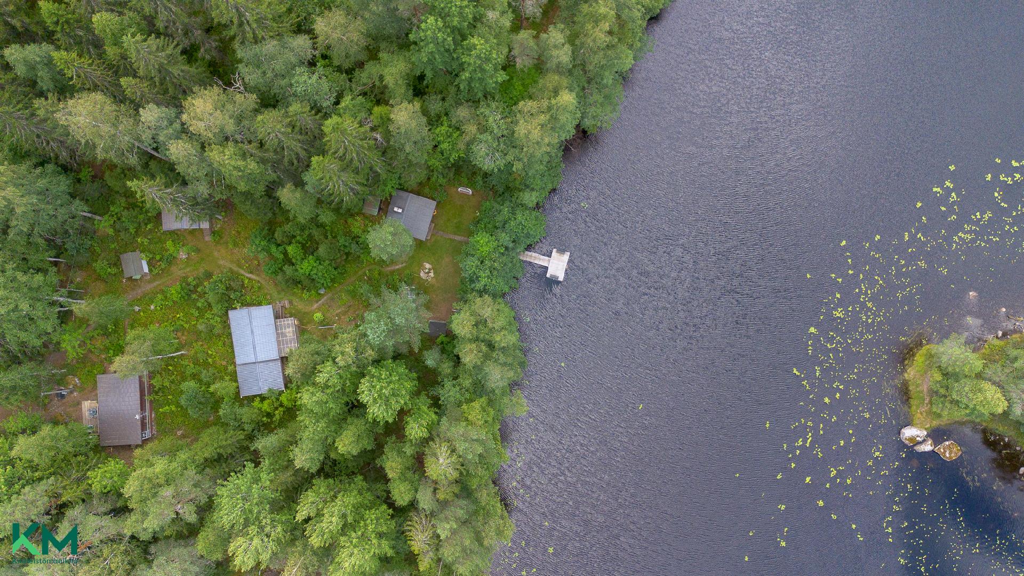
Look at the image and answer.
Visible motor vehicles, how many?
none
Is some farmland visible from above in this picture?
No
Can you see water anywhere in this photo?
Yes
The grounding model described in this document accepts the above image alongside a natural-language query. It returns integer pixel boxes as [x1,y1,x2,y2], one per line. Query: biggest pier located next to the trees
[524,248,570,282]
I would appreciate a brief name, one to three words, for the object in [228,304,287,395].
building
